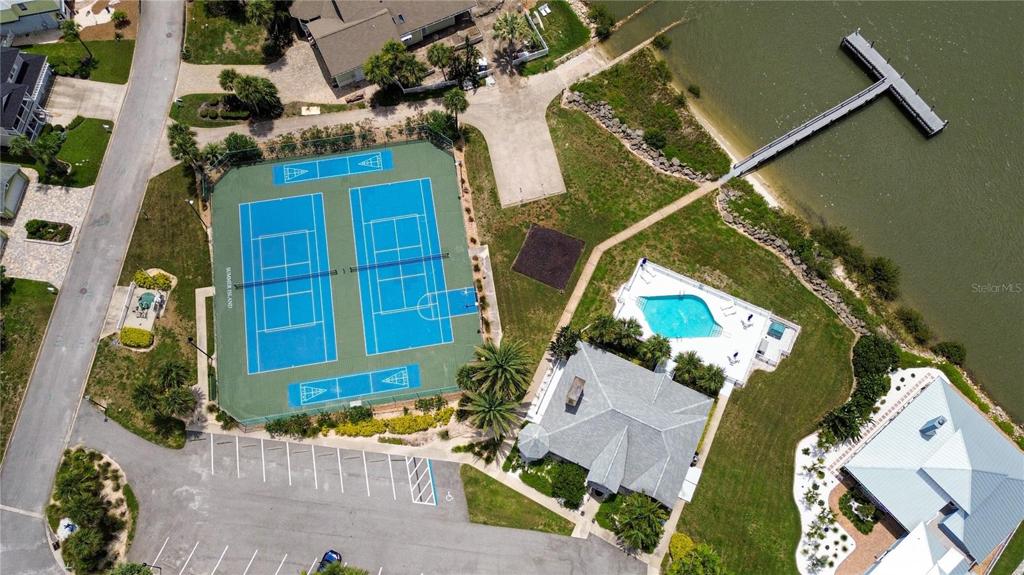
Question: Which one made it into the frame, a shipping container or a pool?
pool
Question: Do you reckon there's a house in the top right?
No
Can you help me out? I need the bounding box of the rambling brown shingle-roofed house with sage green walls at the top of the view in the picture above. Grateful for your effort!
[288,0,477,84]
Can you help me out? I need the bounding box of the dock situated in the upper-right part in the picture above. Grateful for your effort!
[720,25,951,186]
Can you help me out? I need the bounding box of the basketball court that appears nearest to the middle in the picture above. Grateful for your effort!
[417,288,478,320]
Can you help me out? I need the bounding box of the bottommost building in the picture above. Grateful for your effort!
[859,523,970,575]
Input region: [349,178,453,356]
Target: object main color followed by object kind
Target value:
blue tennis court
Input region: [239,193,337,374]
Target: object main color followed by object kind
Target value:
blue tennis court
